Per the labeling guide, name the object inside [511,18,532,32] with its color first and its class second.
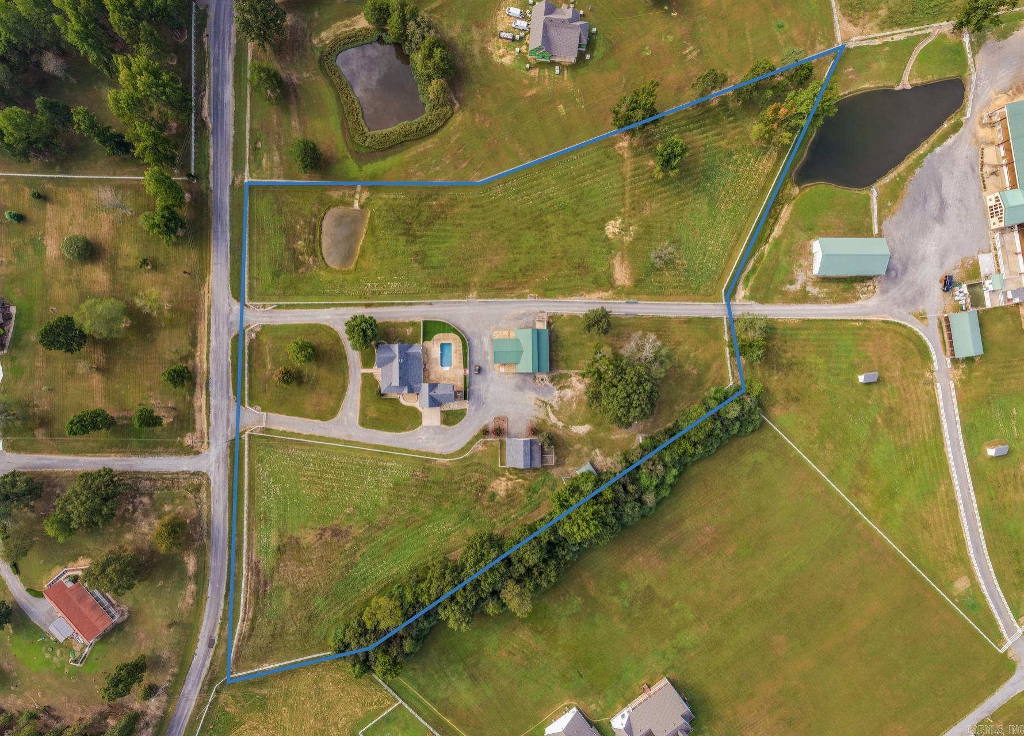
white vehicle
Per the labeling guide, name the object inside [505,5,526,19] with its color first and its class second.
white vehicle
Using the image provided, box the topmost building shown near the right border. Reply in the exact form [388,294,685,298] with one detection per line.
[986,188,1024,230]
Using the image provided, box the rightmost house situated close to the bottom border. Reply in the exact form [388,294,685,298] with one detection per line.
[611,677,694,736]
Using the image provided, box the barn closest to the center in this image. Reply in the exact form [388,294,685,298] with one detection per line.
[494,329,549,373]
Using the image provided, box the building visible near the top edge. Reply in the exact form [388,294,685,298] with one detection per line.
[529,0,589,62]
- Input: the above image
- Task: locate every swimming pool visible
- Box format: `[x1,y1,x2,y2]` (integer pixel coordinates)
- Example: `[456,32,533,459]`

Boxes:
[439,342,453,370]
